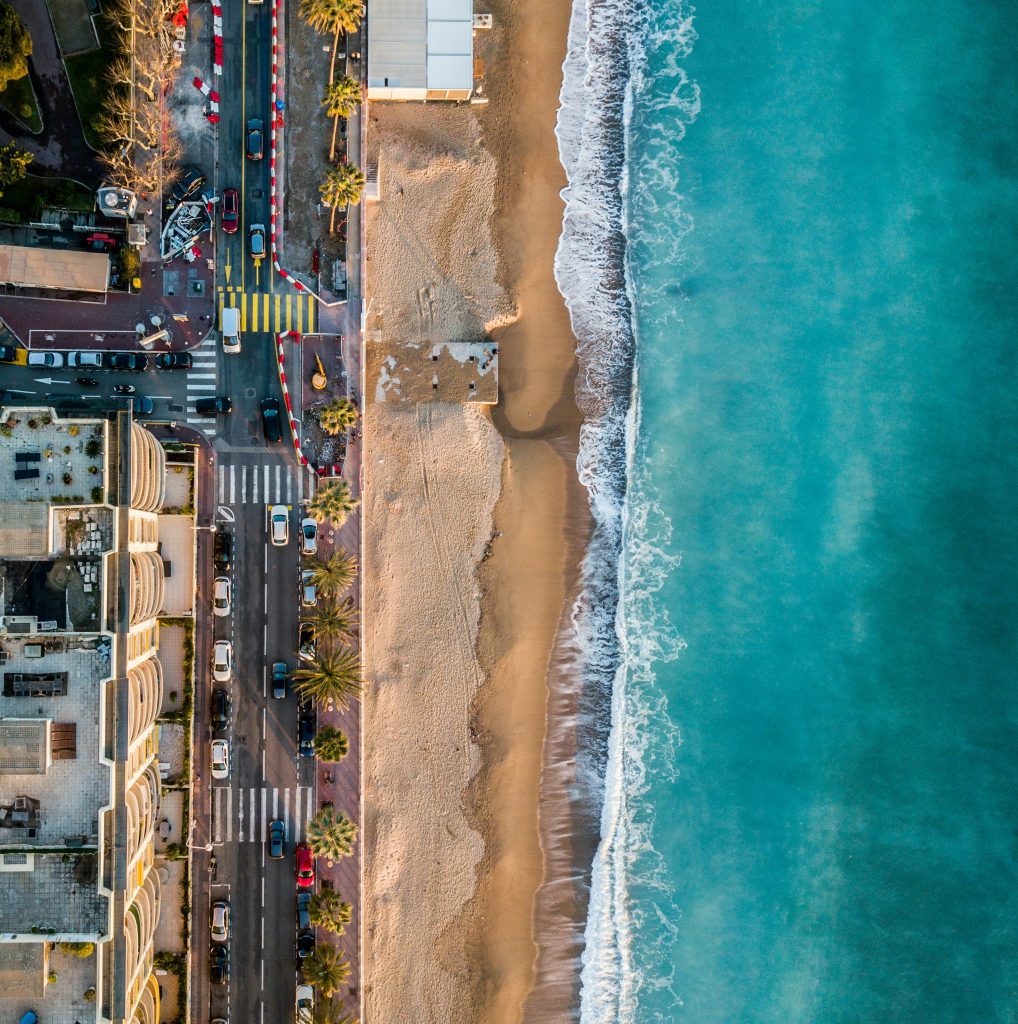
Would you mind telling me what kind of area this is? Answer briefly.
beach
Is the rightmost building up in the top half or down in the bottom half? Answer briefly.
top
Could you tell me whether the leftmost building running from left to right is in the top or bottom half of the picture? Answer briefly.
top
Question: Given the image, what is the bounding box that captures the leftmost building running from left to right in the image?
[0,248,113,296]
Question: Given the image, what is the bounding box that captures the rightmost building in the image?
[368,0,473,105]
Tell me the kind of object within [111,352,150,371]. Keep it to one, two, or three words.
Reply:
car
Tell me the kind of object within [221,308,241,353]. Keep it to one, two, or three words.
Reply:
vehicle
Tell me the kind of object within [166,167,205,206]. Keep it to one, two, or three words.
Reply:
work vehicle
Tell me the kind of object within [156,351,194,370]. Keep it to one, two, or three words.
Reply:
car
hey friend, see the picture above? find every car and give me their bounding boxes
[269,661,288,699]
[295,891,314,928]
[268,819,285,857]
[213,532,232,570]
[210,899,229,940]
[0,389,27,406]
[111,352,150,371]
[0,345,21,364]
[211,738,230,778]
[298,622,317,659]
[213,576,232,617]
[156,351,194,370]
[249,0,265,5]
[195,396,233,414]
[211,690,230,730]
[295,842,314,885]
[298,928,314,961]
[246,123,265,160]
[298,715,316,756]
[67,350,105,370]
[269,505,289,546]
[295,983,314,1024]
[213,639,231,680]
[220,192,240,232]
[209,943,228,983]
[249,226,267,258]
[300,519,319,554]
[123,396,159,415]
[28,351,66,370]
[300,570,318,605]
